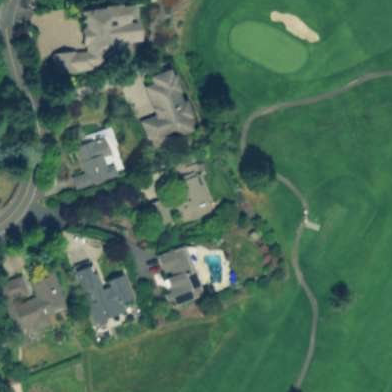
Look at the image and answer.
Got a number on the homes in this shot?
7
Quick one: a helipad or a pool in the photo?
pool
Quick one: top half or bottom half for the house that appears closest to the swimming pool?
bottom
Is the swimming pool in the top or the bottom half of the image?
bottom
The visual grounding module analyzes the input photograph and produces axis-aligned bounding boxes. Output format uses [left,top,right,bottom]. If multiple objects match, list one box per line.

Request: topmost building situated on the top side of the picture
[52,4,146,78]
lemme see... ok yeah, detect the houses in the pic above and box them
[72,260,136,328]
[138,66,199,148]
[157,245,205,304]
[52,4,146,78]
[4,273,66,336]
[71,125,128,188]
[176,176,210,225]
